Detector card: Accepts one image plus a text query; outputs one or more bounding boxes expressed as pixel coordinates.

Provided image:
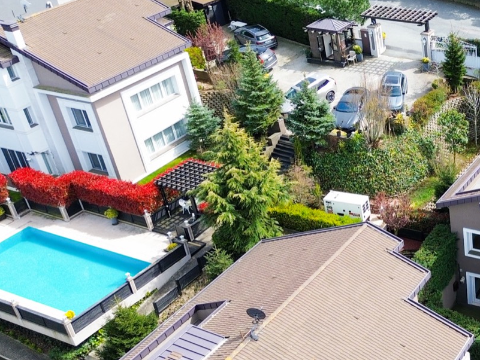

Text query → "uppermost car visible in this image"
[232,26,277,52]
